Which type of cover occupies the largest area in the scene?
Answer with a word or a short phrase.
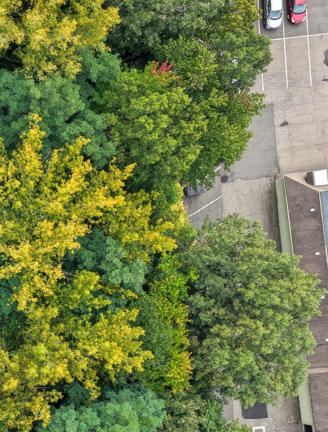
trees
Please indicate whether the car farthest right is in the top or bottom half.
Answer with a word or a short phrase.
top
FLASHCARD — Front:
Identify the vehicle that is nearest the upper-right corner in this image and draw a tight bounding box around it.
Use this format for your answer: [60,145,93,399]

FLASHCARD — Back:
[286,0,311,23]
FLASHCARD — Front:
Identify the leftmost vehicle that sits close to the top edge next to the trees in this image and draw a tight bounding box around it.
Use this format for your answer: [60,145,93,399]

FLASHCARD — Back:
[263,0,287,28]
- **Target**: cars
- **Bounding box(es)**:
[263,0,287,28]
[286,0,311,23]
